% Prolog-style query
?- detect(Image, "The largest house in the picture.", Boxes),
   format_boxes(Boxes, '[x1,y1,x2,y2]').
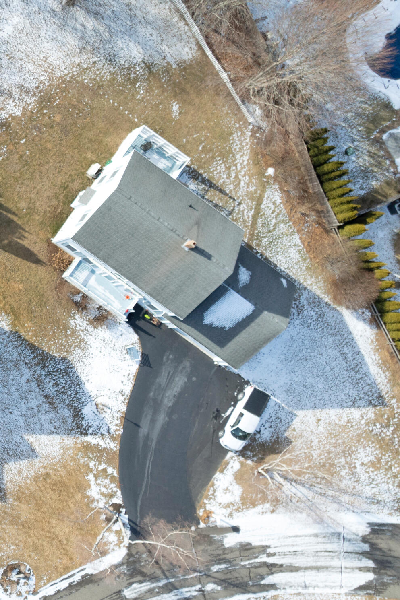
[54,150,297,369]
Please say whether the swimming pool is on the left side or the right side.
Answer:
right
